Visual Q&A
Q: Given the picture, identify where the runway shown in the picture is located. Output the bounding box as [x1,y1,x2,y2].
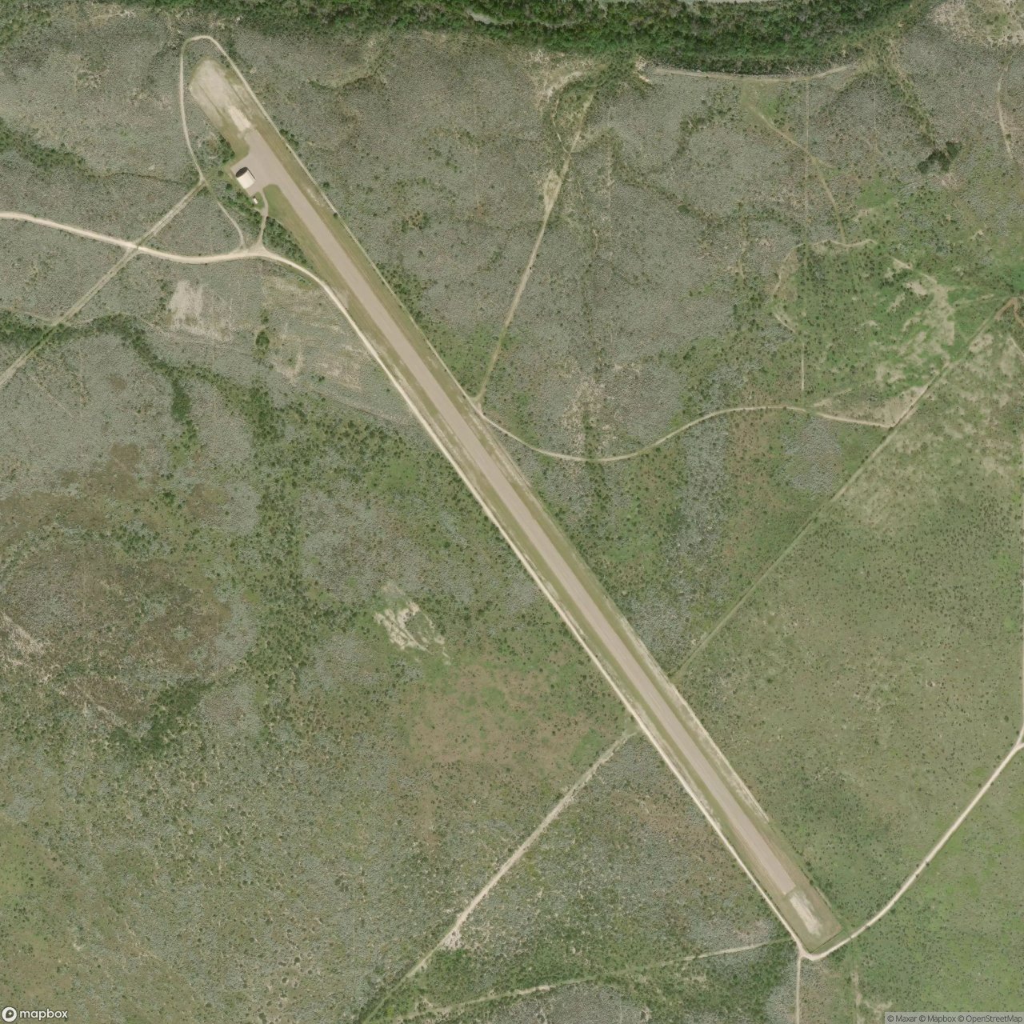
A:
[231,130,796,894]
